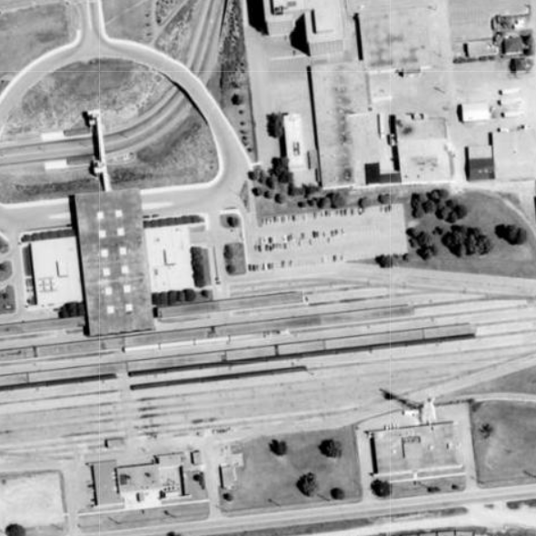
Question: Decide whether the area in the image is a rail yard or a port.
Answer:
rail yard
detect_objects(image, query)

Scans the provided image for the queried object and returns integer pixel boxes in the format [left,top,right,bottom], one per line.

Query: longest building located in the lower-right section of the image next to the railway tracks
[374,424,462,475]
